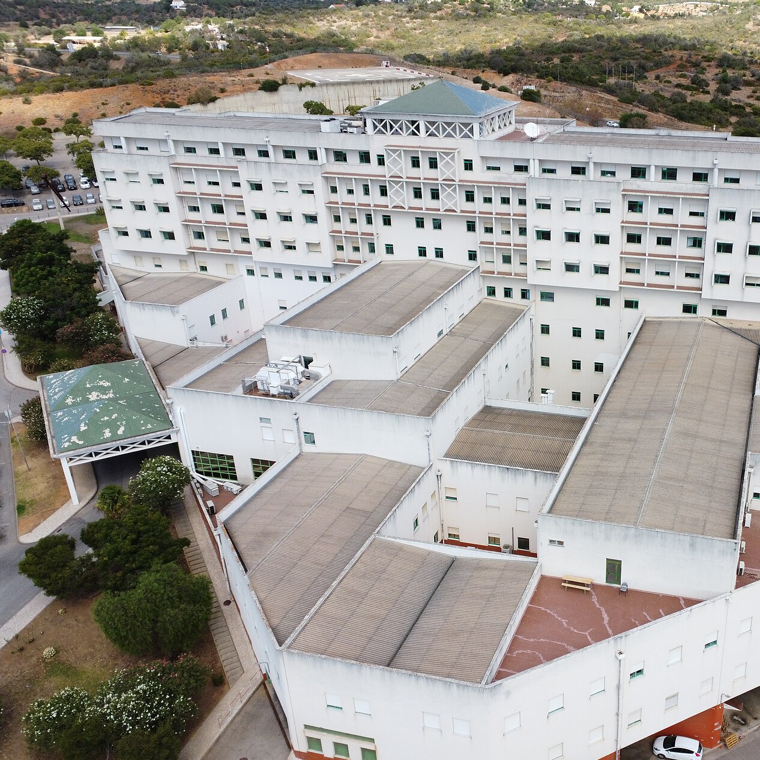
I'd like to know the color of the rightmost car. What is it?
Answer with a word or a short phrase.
white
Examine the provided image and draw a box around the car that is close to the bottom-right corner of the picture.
[651,732,705,760]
